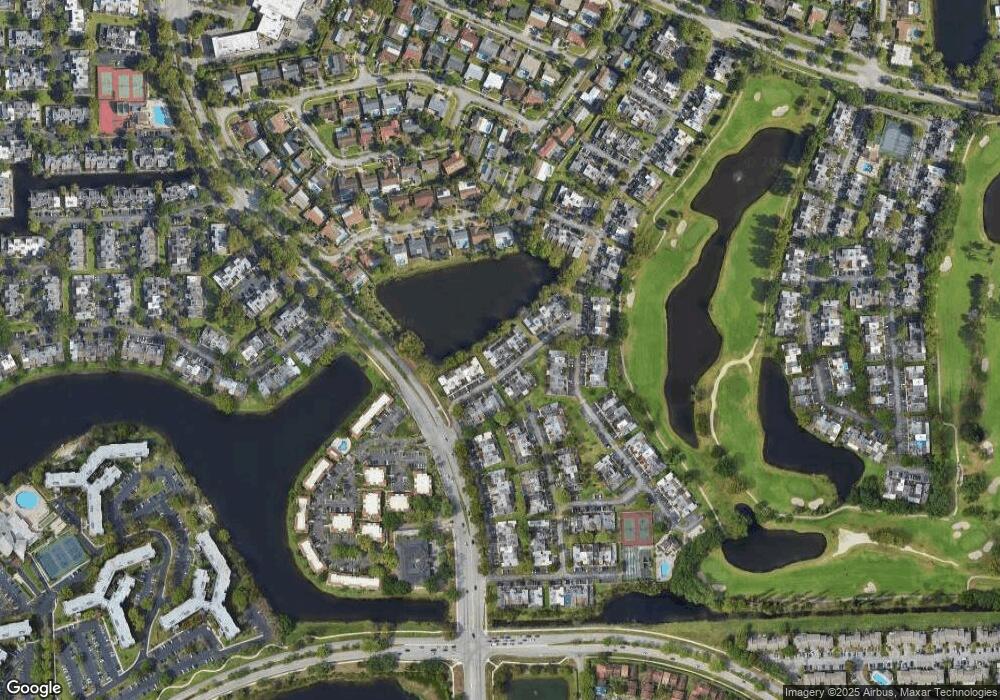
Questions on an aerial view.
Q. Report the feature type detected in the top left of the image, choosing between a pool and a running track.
pool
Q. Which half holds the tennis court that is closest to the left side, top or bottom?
bottom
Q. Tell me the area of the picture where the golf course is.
right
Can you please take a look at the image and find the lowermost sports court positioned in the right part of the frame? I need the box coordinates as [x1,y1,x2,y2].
[622,547,652,580]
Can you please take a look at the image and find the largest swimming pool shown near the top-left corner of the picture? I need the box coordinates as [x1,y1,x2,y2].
[140,100,177,130]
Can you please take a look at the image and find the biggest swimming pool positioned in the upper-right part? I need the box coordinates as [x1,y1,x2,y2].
[856,155,882,178]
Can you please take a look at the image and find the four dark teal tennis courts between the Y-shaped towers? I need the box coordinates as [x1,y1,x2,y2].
[34,535,90,582]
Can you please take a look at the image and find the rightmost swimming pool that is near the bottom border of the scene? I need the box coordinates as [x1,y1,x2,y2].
[872,671,892,686]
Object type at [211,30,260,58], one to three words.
building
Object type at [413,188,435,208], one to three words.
house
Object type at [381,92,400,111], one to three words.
house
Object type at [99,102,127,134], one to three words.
sports court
